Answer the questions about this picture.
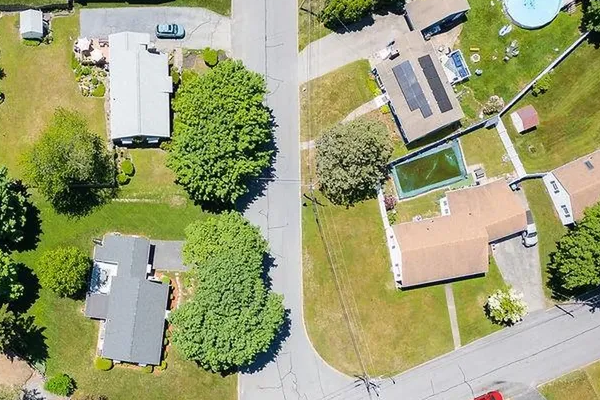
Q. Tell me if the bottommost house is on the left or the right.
left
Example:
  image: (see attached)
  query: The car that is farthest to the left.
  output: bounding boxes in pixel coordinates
[155,22,185,39]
